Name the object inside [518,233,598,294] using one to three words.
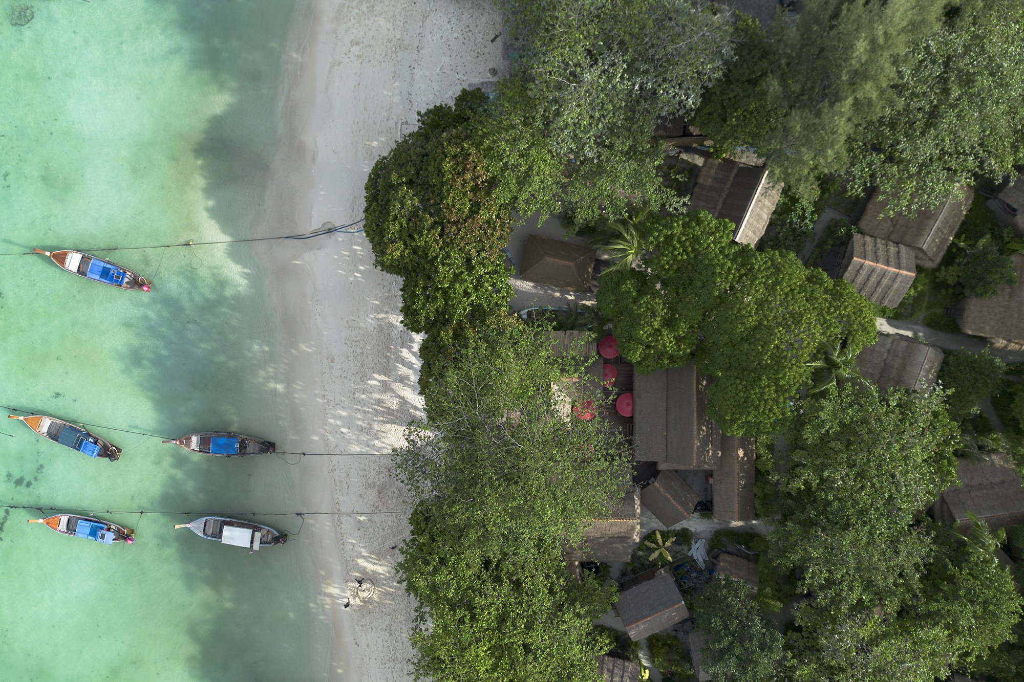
shed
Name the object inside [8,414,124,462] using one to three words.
boat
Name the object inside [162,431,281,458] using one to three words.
boat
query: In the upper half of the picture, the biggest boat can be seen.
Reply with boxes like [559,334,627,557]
[33,248,156,297]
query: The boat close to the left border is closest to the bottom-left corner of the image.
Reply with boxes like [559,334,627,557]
[27,514,138,547]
